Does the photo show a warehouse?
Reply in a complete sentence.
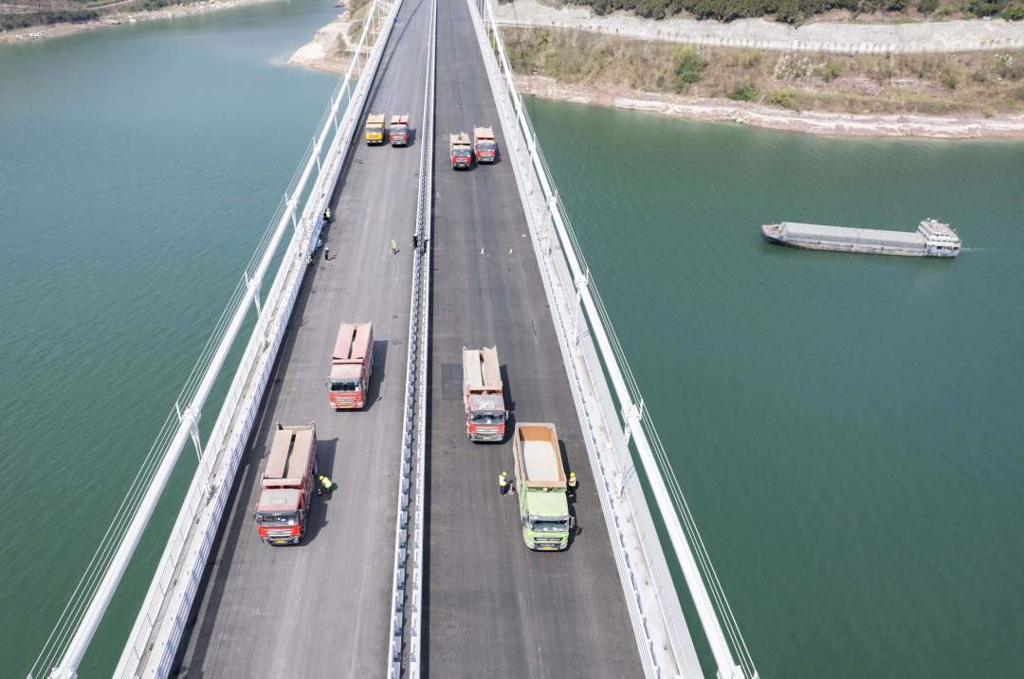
No, I can't see a single warehouse in this photo.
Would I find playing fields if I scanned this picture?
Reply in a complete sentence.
No, the frame has no playing field in it.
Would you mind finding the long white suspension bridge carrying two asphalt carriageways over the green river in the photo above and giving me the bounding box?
[30,0,759,679]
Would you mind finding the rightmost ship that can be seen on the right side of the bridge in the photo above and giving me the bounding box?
[760,218,961,260]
